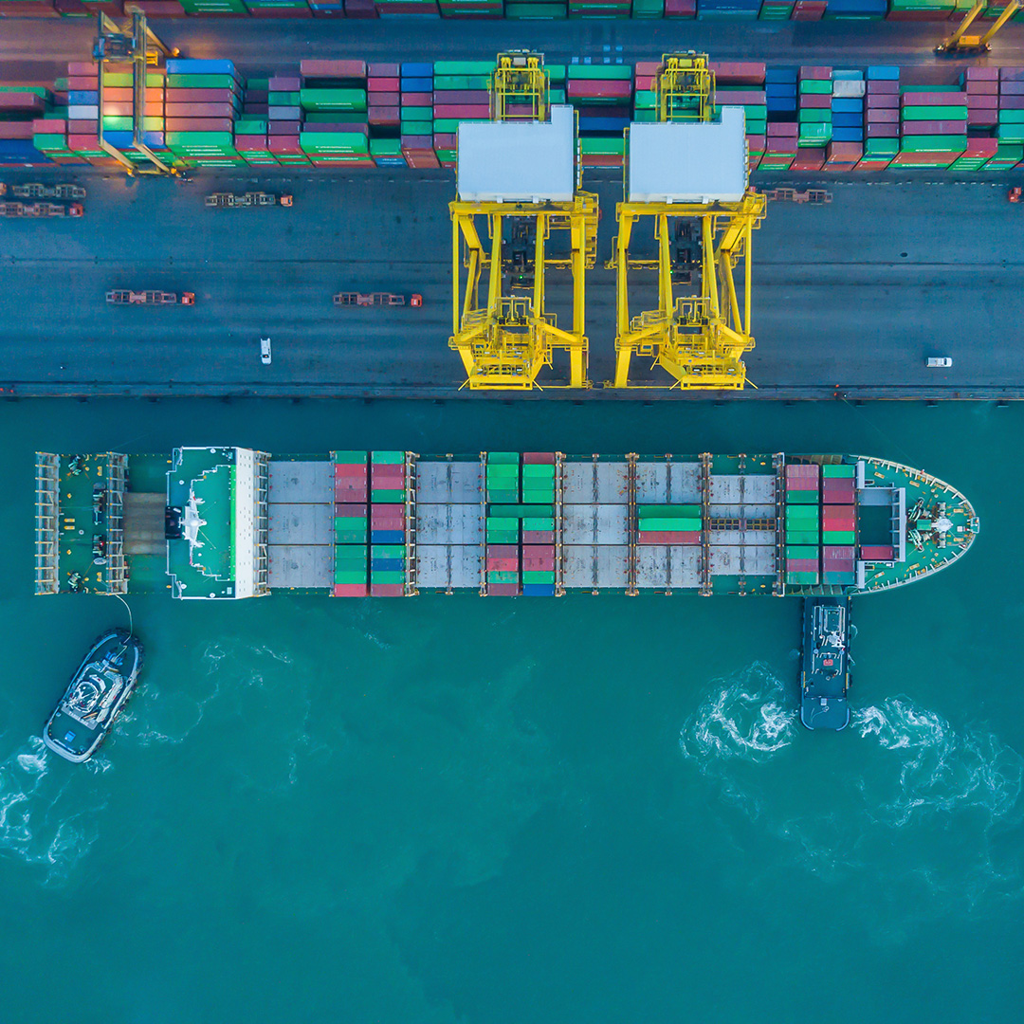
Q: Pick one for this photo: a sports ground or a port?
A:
port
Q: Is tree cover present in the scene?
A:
No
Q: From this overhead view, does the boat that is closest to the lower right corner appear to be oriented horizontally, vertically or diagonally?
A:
vertically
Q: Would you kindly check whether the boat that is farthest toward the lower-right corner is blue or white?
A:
blue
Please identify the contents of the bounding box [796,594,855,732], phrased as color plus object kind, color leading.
blue boat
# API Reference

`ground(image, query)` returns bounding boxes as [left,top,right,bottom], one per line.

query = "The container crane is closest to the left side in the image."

[83,1,179,177]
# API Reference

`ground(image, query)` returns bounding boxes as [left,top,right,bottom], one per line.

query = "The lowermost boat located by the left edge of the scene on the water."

[43,630,142,764]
